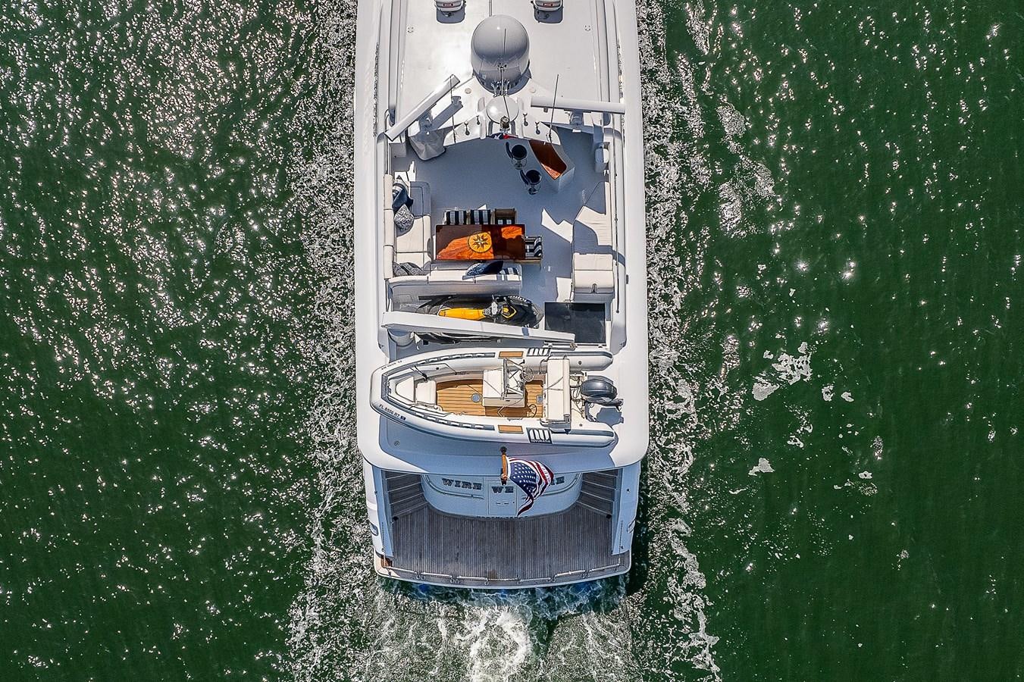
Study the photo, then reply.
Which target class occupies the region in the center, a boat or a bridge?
boat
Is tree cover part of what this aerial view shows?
No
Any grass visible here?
No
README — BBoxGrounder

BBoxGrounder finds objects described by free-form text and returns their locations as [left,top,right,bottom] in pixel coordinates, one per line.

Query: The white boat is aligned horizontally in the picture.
[366,347,628,449]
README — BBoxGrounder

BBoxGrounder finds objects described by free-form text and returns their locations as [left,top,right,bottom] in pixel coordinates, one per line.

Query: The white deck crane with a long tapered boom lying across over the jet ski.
[379,314,575,362]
